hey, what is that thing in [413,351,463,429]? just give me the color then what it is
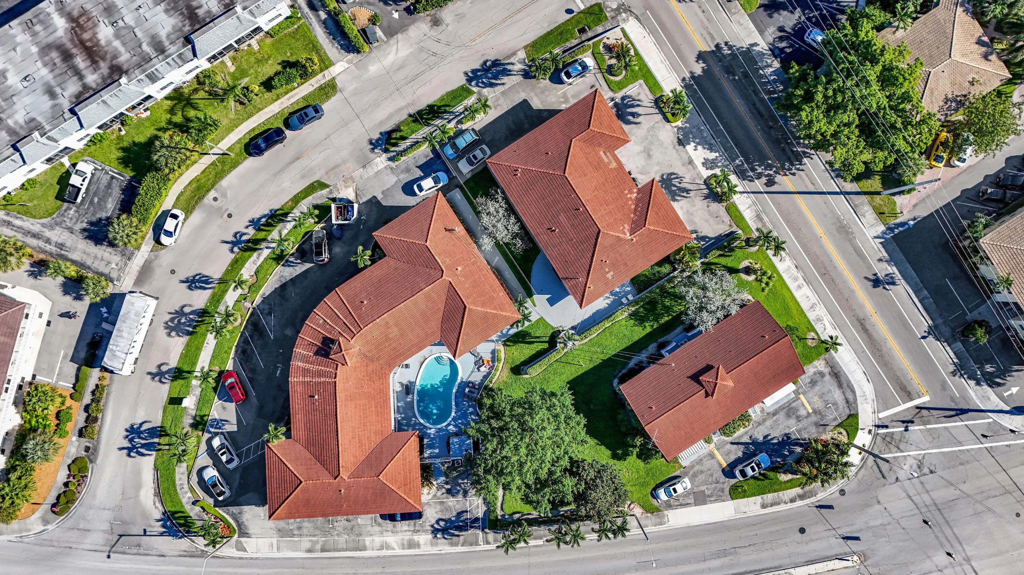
blue swimming pool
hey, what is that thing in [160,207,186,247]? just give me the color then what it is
white car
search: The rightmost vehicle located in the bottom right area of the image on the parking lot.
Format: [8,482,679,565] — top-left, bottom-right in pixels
[732,451,771,482]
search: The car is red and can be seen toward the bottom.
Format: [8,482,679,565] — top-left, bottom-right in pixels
[221,369,248,405]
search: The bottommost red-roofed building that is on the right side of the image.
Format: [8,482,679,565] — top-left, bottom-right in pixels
[620,300,805,461]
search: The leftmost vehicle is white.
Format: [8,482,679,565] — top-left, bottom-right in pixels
[62,160,96,205]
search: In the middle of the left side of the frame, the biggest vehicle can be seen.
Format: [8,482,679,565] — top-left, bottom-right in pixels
[98,288,160,380]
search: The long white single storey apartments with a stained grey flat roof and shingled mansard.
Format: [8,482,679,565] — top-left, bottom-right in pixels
[0,0,293,195]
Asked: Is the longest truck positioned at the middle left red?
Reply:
No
